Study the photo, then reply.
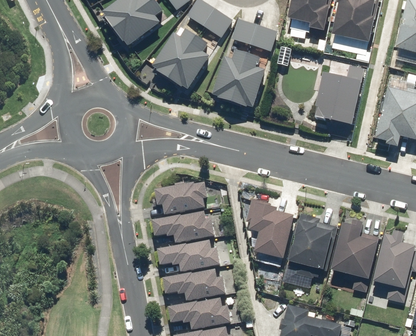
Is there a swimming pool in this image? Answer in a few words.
No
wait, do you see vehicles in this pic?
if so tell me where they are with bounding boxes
[170,324,184,332]
[40,99,52,113]
[410,176,416,182]
[352,192,366,200]
[253,8,262,24]
[273,304,286,318]
[195,129,211,138]
[146,208,160,216]
[164,266,178,274]
[372,220,380,236]
[257,168,270,176]
[136,266,142,280]
[365,165,381,173]
[118,288,126,302]
[390,200,408,210]
[400,139,407,154]
[288,146,304,154]
[324,208,332,223]
[124,316,132,332]
[364,219,372,234]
